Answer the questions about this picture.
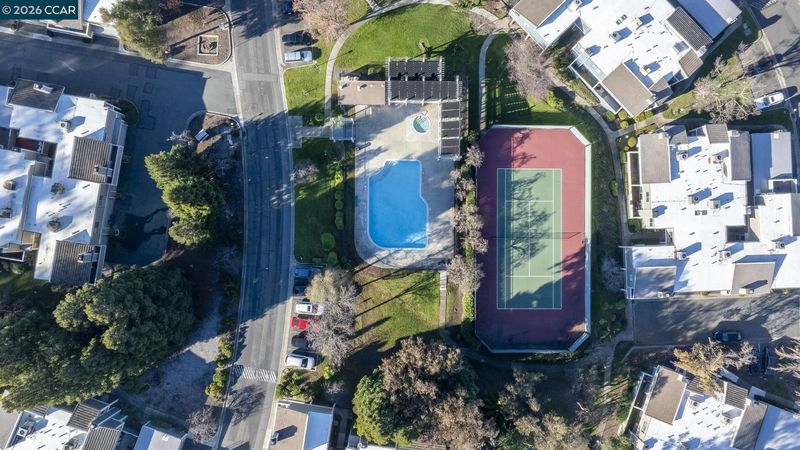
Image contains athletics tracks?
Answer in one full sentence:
No, the frame has no athletics track in it.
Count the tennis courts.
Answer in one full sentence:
Just 1 tennis court appears in this view.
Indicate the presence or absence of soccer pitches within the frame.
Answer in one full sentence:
No, there appears to be no soccer pitch in this shot.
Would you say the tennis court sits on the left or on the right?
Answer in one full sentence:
You can find the tennis court on the right side of the picture.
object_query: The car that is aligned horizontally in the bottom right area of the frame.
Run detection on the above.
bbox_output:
[712,330,742,344]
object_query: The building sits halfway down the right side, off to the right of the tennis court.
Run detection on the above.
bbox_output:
[604,123,800,299]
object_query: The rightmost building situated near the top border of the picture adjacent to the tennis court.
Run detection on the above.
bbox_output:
[493,0,741,130]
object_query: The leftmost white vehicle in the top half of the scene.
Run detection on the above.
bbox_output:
[283,49,313,63]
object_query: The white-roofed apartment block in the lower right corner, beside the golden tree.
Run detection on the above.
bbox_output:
[612,357,800,450]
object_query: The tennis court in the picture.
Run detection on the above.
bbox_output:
[476,123,592,357]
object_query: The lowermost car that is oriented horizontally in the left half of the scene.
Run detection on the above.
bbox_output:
[286,354,316,369]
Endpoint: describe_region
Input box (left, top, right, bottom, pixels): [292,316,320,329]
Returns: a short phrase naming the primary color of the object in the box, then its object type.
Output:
red vehicle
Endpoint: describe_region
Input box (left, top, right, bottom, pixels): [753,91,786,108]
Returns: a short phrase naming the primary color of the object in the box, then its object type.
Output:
white car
